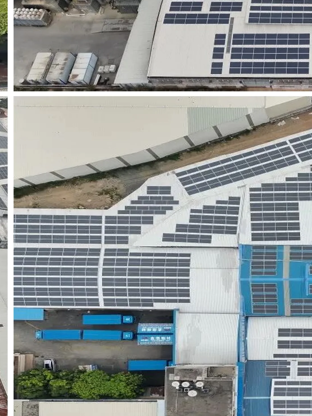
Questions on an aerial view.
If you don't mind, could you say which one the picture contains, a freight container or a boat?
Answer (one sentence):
The one in the frame is a freight container.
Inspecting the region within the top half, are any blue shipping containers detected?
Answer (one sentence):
No, looking within the top half, there is no blue shipping container.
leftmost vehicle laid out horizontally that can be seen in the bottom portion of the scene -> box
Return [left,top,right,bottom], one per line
[31,326,81,339]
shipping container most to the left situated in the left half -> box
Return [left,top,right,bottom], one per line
[26,53,53,84]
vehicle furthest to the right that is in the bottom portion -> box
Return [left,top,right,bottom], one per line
[128,356,164,369]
